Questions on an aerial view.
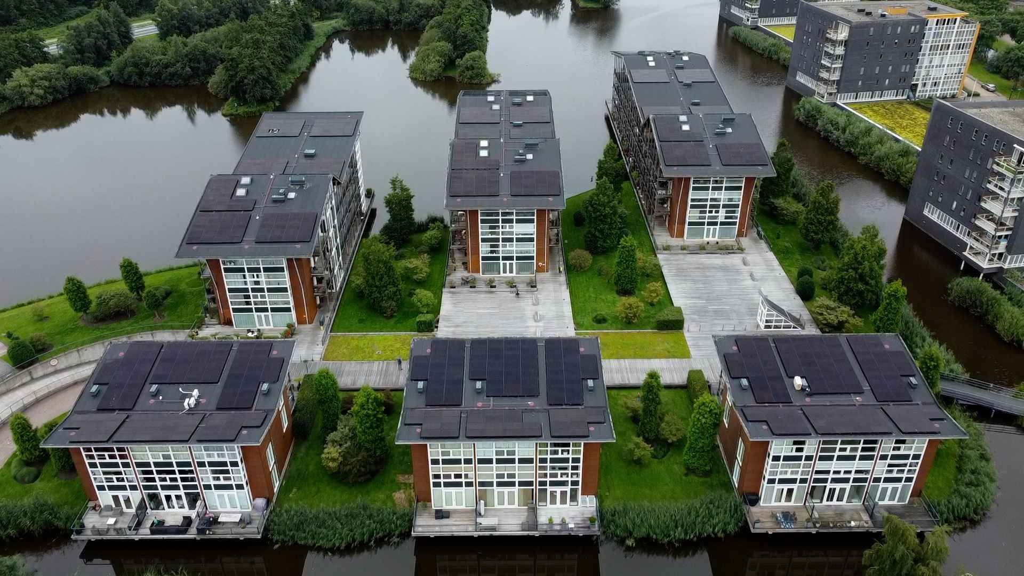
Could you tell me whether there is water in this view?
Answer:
Yes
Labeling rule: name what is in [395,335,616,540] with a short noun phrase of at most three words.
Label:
house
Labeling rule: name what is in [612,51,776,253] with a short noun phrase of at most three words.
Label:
building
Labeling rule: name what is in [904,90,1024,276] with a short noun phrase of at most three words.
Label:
building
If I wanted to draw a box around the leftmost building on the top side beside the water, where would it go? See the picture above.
[176,110,374,346]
